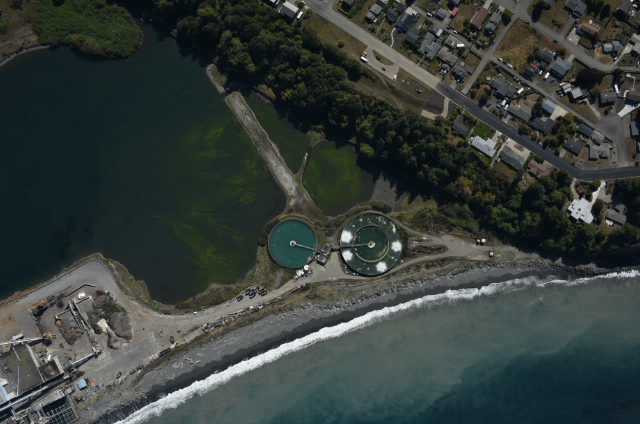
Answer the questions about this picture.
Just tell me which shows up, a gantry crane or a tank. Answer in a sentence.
I can see a tank in this picture.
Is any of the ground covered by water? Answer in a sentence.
Yes, the picture does contain water.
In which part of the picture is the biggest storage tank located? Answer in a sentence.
The biggest storage tank appears toward the center of the photo.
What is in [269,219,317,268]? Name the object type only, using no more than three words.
storage tank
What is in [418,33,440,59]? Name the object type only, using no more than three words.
house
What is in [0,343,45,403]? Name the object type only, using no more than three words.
building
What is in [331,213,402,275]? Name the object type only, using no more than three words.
storage tank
